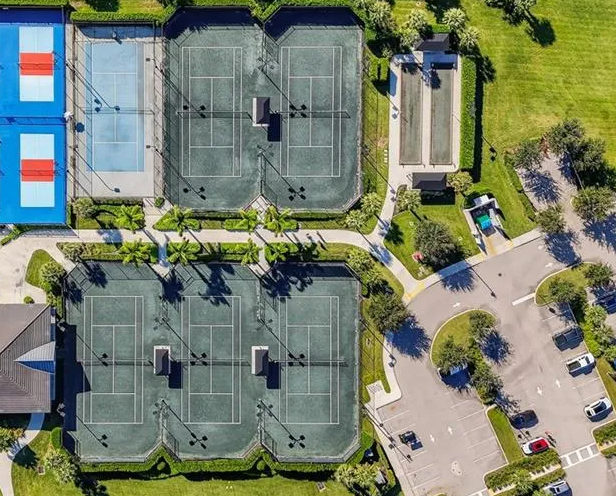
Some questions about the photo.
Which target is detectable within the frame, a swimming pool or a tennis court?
tennis court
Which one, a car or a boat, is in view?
car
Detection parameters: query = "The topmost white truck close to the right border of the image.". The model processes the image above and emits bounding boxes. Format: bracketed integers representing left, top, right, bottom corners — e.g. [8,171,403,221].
[563,351,597,374]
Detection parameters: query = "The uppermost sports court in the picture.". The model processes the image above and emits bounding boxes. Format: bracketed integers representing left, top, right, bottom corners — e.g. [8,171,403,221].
[15,27,55,101]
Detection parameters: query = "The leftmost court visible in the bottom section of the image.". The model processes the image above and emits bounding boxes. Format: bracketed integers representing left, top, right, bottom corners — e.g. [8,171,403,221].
[78,296,148,424]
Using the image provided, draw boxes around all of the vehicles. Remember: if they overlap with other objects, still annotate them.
[592,289,616,305]
[400,431,417,444]
[582,398,611,418]
[508,408,538,428]
[541,480,567,496]
[563,351,597,374]
[550,325,584,348]
[521,436,550,455]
